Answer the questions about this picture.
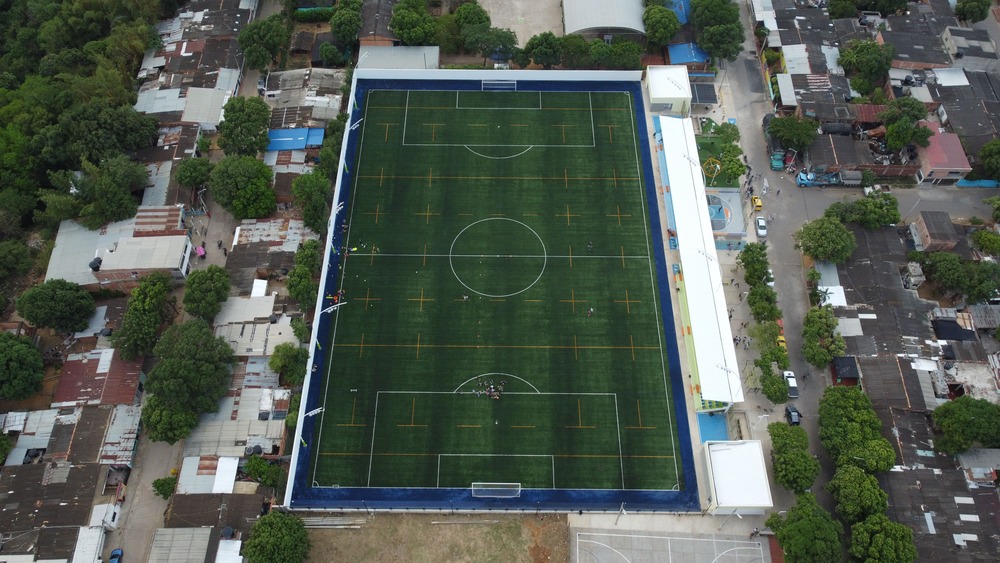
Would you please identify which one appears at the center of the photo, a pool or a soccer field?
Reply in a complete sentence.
What appears at the center of the photo is a soccer field.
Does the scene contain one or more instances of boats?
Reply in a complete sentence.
No, no boat is visible in the scene.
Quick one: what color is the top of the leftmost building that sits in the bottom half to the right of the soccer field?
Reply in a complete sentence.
The roof over the leftmost building that sits in the bottom half to the right of the soccer field appears white.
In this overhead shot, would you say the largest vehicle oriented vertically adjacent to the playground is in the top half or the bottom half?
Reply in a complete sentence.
The top half of the photo is where the largest vehicle oriented vertically adjacent to the playground is.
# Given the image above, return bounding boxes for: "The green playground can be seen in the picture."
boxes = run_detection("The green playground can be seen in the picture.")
[695,118,744,180]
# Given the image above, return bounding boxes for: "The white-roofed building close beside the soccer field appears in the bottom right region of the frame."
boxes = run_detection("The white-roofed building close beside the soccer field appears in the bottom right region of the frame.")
[701,440,772,516]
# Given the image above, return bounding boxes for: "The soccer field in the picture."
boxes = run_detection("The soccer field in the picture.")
[291,79,698,509]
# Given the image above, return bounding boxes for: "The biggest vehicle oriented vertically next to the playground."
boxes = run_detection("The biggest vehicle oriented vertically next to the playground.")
[763,118,783,173]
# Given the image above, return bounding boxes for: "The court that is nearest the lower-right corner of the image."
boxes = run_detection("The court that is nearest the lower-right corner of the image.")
[568,527,783,563]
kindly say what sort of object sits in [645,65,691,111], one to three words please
building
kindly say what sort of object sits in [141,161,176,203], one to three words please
house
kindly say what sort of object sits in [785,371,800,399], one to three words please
vehicle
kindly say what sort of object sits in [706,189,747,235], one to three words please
basketball court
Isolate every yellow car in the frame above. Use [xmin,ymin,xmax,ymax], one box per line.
[751,195,764,213]
[775,337,788,352]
